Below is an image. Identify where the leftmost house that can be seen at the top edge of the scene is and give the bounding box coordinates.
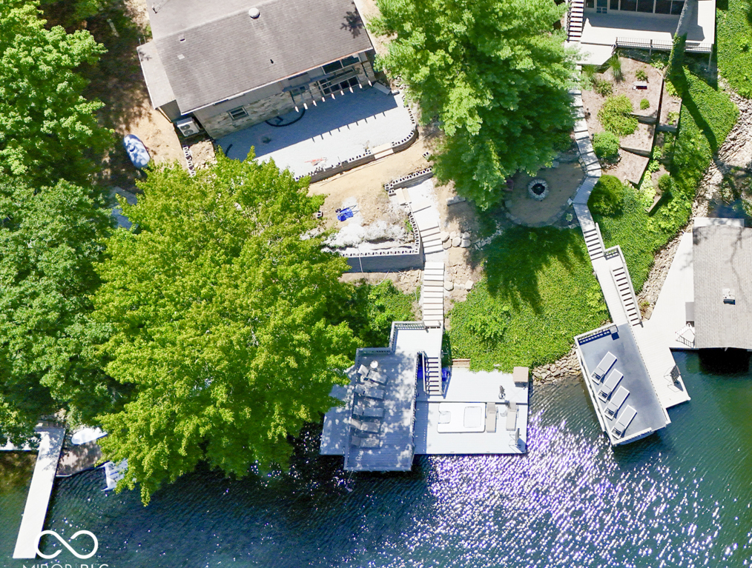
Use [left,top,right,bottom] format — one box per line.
[138,0,380,135]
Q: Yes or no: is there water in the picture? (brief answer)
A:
Yes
